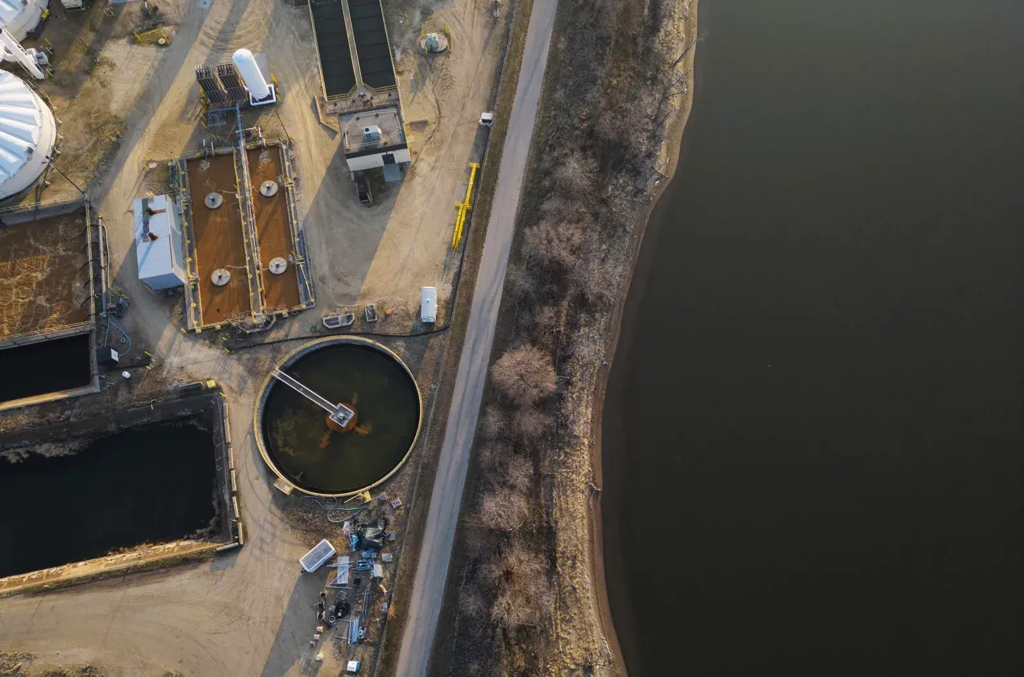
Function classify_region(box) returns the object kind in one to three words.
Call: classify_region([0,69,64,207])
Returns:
storage tank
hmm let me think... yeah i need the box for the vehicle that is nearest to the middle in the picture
[420,284,437,326]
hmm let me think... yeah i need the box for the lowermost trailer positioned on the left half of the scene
[302,539,338,574]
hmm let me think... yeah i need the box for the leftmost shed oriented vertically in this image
[134,194,184,288]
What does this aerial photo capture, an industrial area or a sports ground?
industrial area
